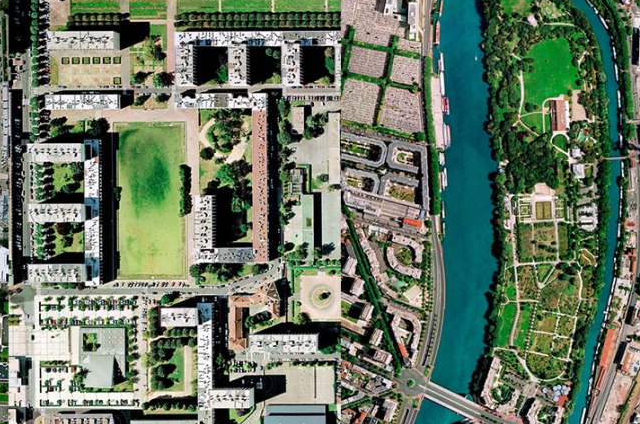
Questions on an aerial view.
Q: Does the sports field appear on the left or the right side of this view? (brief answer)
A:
left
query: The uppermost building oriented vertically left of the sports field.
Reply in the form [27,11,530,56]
[85,140,104,286]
